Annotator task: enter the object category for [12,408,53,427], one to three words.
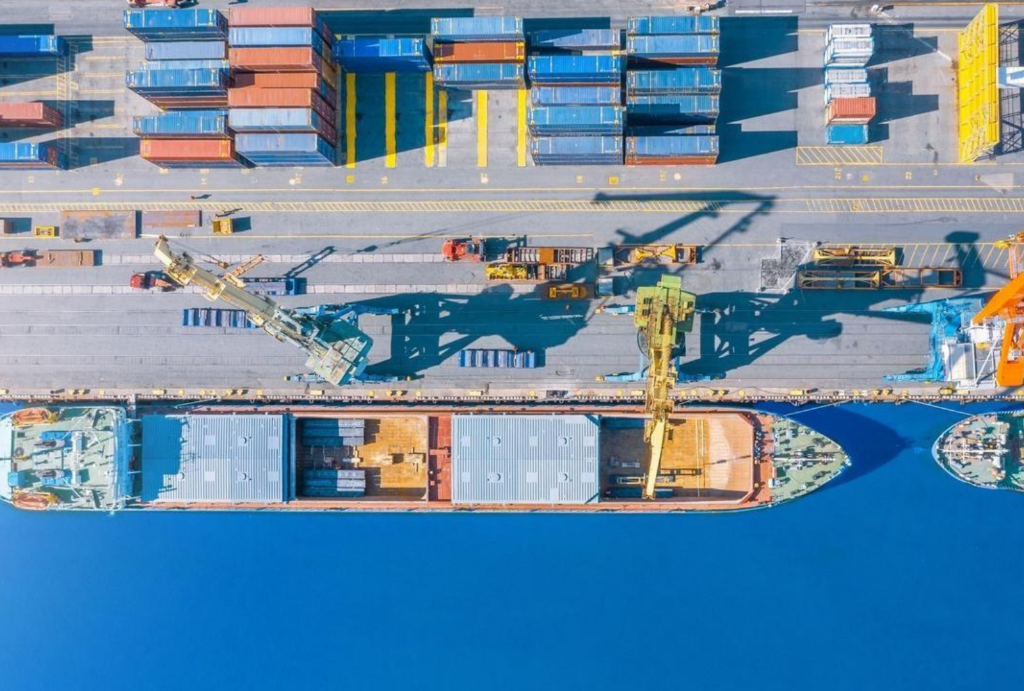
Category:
boat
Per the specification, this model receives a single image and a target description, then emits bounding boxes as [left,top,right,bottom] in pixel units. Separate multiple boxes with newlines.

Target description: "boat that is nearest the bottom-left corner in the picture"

[13,494,54,510]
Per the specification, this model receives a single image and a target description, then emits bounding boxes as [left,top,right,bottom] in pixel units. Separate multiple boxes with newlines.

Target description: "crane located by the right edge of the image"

[884,230,1024,387]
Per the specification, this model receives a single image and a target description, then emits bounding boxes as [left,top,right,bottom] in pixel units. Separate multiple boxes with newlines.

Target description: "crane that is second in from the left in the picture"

[600,273,725,502]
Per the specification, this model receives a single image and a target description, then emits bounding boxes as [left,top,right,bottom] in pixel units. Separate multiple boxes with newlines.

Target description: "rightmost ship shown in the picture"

[929,410,1024,491]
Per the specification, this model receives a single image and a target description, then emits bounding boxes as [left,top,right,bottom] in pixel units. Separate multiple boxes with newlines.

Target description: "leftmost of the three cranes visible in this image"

[143,227,414,390]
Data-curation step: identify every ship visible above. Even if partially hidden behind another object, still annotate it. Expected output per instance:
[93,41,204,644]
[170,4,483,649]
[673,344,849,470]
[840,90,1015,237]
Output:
[0,406,851,512]
[929,410,1024,491]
